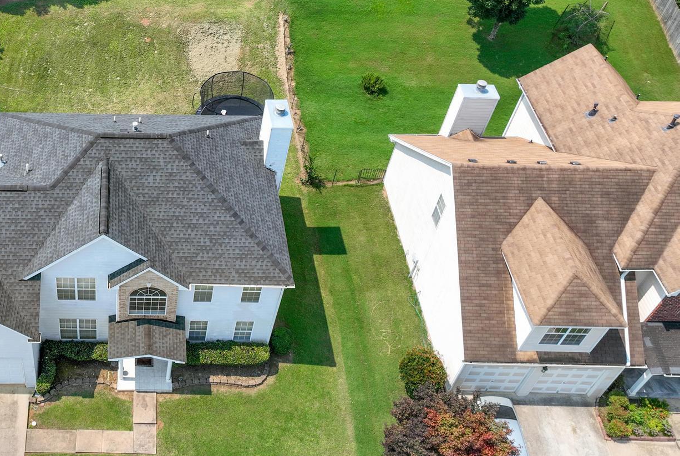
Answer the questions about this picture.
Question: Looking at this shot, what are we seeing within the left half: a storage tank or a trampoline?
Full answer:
Looking within the left half, you will find a trampoline.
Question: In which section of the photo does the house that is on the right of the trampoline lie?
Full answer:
The house that is on the right of the trampoline is located in the right region of the scene.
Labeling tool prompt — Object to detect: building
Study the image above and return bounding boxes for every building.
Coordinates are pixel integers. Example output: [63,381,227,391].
[383,44,680,416]
[0,99,297,392]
